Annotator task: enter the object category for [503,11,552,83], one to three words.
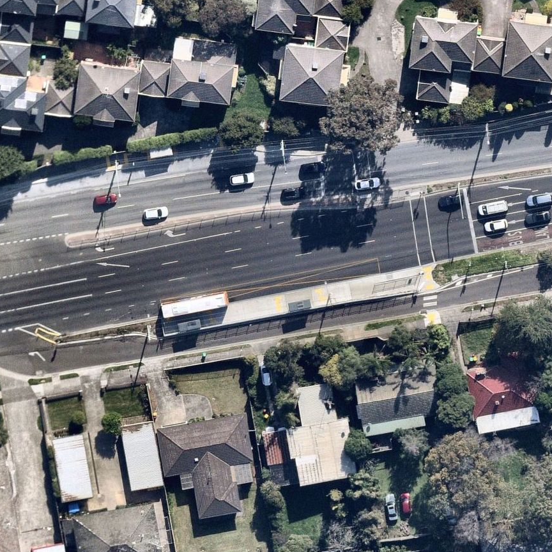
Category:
house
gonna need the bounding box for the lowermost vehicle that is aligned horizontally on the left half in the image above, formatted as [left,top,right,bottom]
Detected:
[159,297,228,323]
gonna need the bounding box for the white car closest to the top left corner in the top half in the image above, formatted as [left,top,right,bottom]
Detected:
[144,207,166,220]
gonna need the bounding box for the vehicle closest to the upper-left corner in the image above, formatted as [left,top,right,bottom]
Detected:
[95,193,117,206]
